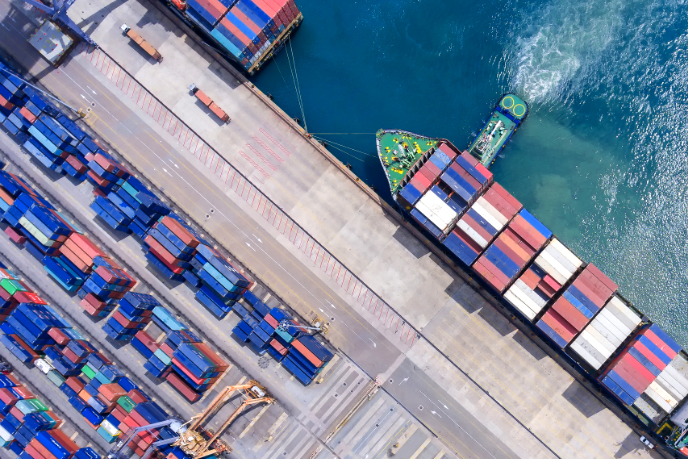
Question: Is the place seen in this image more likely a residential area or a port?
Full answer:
It's a port.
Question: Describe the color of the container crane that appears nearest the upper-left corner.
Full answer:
The container crane that appears nearest the upper-left corner is blue.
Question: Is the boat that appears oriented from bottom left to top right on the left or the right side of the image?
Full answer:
The boat that appears oriented from bottom left to top right is on the right side of the image.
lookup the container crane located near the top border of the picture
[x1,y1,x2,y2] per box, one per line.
[32,0,104,52]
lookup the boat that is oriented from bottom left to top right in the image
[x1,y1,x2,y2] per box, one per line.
[466,94,529,174]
